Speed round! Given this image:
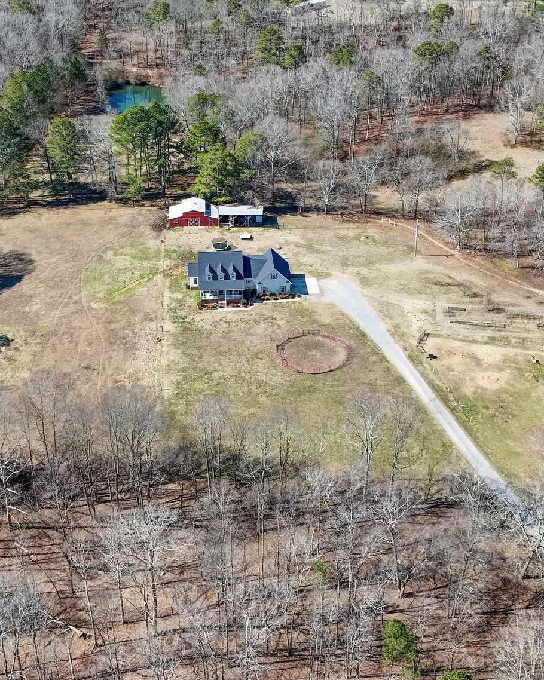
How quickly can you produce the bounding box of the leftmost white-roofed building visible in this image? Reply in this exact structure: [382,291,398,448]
[169,195,221,226]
